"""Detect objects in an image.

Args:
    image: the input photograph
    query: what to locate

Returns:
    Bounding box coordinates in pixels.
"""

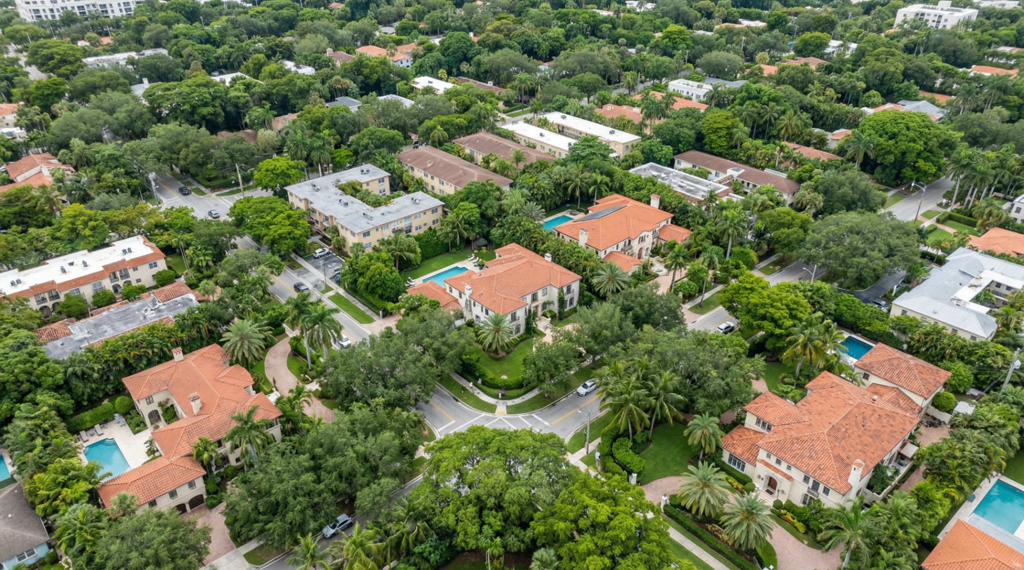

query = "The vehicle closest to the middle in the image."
[577,376,604,395]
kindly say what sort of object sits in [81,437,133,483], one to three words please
swimming pool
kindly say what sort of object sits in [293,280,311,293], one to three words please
vehicle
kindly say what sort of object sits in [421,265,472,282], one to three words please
swimming pool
